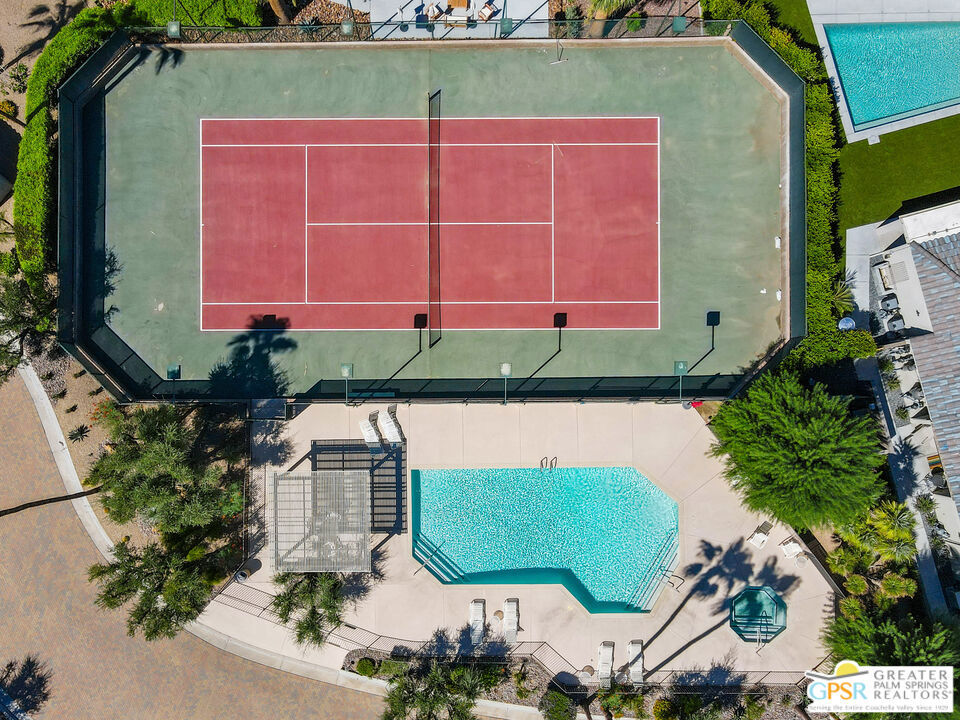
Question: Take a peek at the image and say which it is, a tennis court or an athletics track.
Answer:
tennis court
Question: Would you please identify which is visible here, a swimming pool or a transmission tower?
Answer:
swimming pool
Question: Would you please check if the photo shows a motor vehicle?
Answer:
No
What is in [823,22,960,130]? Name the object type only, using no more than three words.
swimming pool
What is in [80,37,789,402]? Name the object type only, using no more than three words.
tennis court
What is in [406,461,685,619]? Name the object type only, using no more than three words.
swimming pool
